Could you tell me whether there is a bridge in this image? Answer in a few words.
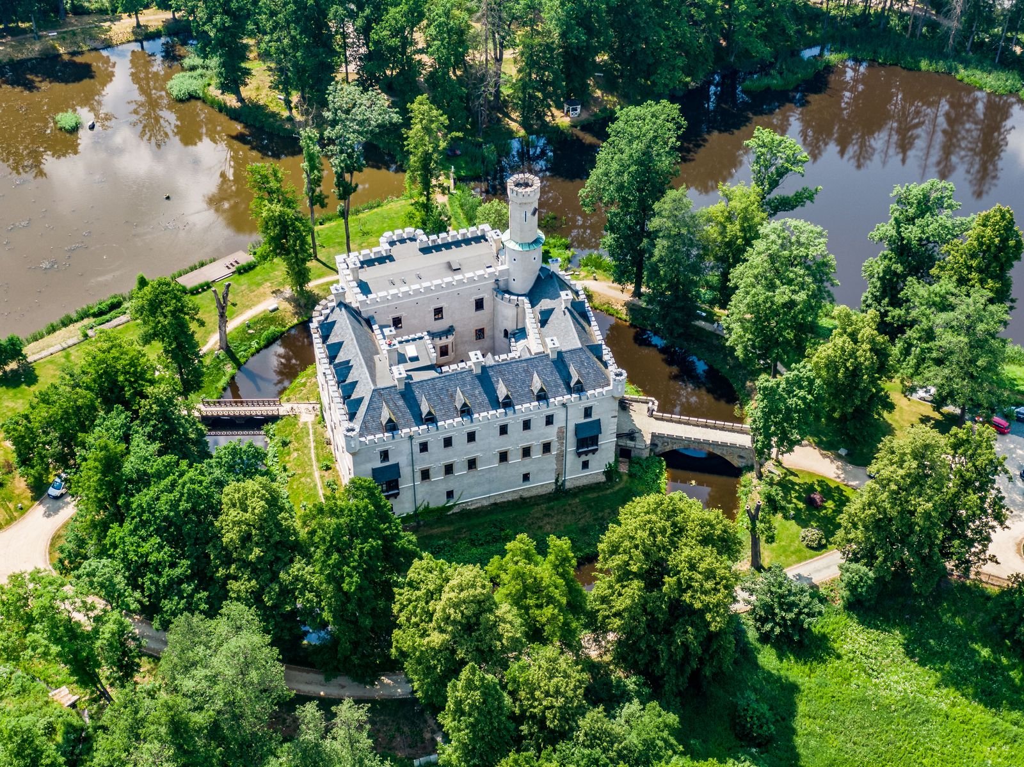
Yes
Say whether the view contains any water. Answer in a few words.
Yes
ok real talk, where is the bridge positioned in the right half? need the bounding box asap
[650,409,778,476]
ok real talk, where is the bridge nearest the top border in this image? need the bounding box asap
[187,395,285,424]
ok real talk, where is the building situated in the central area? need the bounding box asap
[310,175,628,535]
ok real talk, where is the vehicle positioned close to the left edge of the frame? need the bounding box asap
[46,473,68,498]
